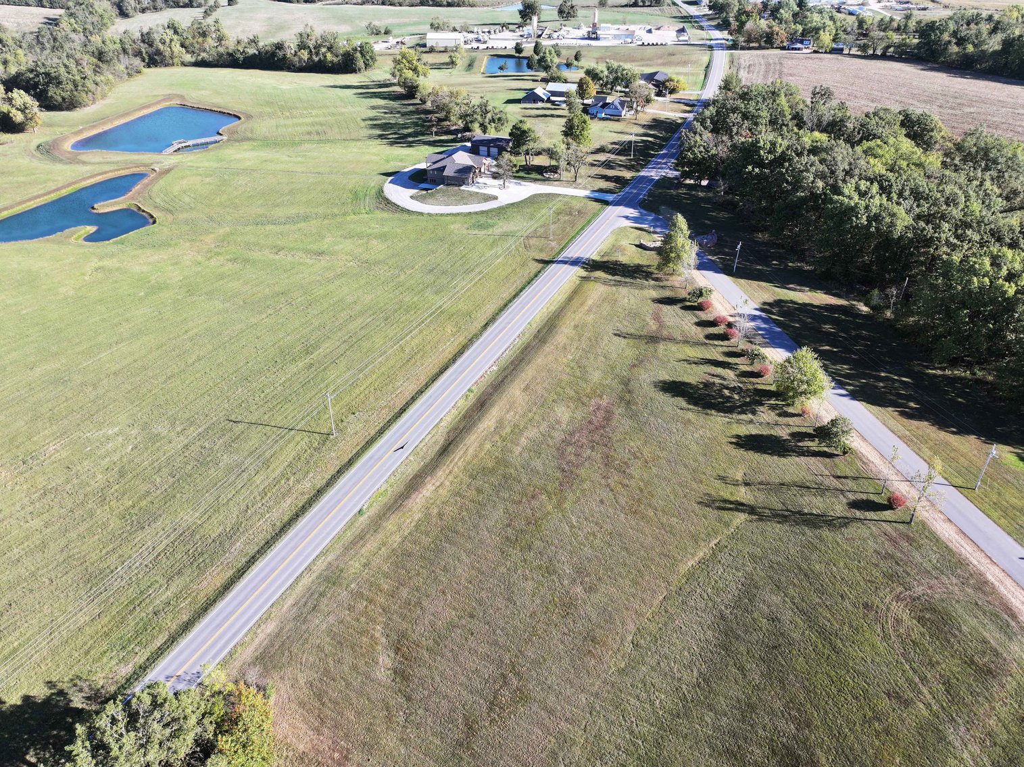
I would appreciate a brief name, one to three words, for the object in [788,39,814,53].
house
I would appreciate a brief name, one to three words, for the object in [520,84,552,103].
shed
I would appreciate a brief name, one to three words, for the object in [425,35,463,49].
shed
